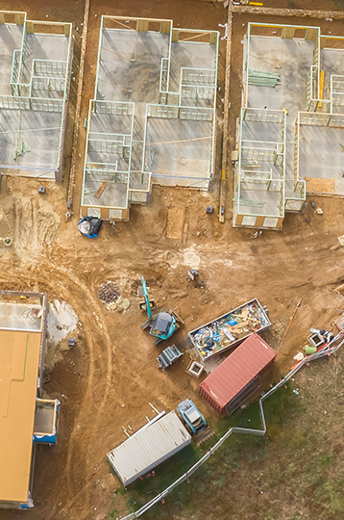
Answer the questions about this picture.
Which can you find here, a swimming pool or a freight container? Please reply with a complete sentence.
Visible in the photo is a freight container.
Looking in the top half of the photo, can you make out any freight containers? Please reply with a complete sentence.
No, looking in the top half of the photo, there is no freight container.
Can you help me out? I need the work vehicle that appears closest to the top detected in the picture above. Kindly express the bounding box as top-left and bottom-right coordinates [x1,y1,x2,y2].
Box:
[139,273,187,349]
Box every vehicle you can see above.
[139,273,187,349]
[171,395,215,447]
